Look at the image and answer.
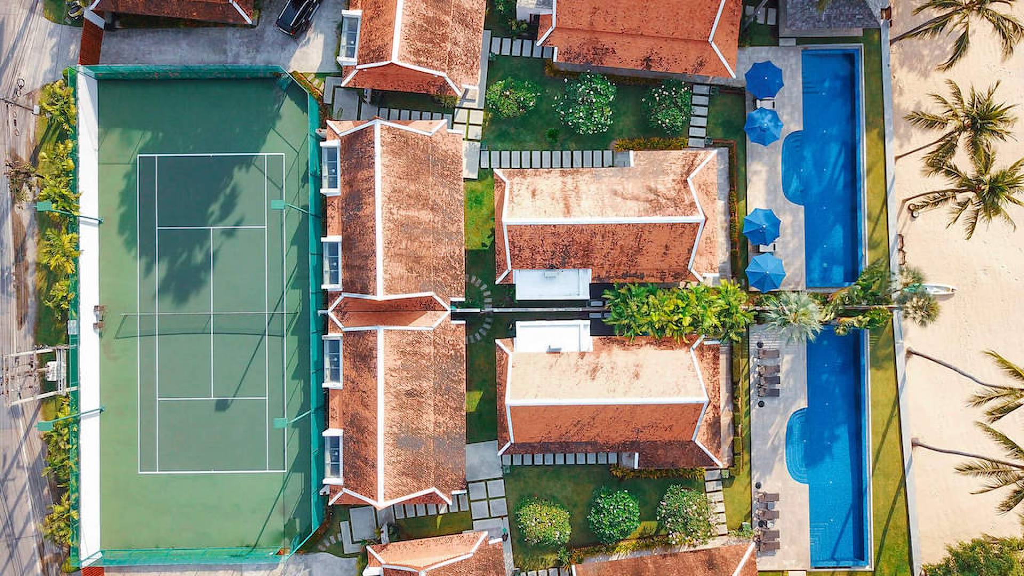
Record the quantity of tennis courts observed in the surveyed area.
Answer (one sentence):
In total, there is 1 tennis court in the scene.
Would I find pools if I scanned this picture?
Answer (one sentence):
Yes, looking at the shot, I can spot a pool.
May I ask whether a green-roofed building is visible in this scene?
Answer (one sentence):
No, the picture doesn't show any green-roofed building.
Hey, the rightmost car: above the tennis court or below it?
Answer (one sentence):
Looking at the scene, the rightmost car is located above the tennis court.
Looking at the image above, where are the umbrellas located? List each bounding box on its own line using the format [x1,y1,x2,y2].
[743,252,784,293]
[743,209,779,244]
[744,63,782,100]
[742,108,782,147]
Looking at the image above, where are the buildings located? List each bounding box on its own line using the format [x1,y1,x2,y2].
[517,0,742,79]
[321,118,466,311]
[493,148,718,300]
[363,530,505,576]
[323,310,468,507]
[571,539,760,576]
[86,0,257,26]
[339,0,484,98]
[779,0,883,38]
[494,320,725,470]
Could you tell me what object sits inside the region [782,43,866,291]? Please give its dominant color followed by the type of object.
blue swimming pool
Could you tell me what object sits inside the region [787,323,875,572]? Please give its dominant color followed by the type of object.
blue swimming pool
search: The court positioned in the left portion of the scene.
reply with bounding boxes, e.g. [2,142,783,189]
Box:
[100,79,324,551]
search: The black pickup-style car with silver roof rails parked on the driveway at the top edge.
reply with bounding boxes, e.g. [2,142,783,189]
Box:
[277,0,325,41]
